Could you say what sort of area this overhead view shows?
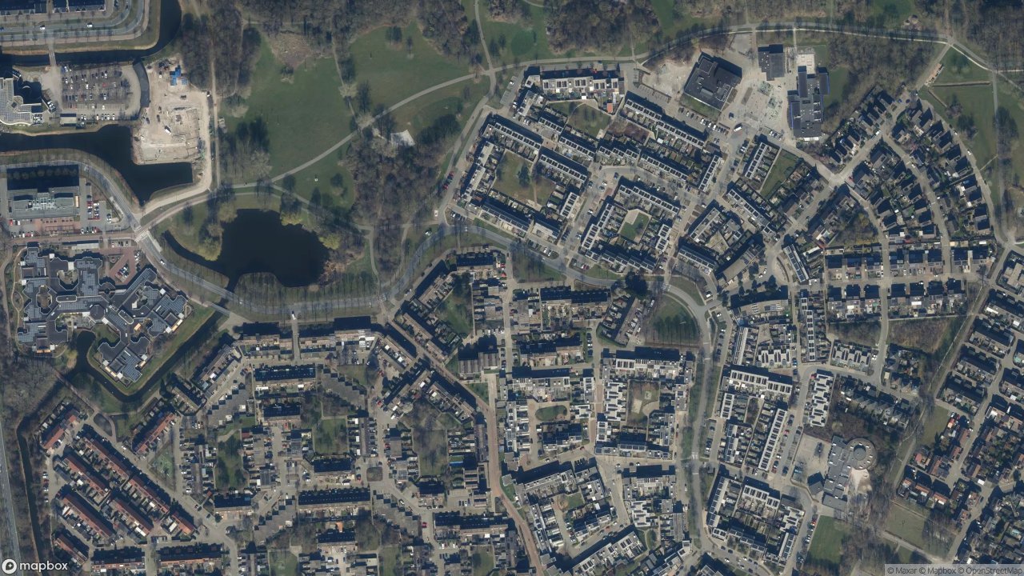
residential area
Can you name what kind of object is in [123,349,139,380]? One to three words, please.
solar array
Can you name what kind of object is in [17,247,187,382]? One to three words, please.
house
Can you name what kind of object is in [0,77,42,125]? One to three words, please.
building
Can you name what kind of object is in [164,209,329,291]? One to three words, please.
pond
